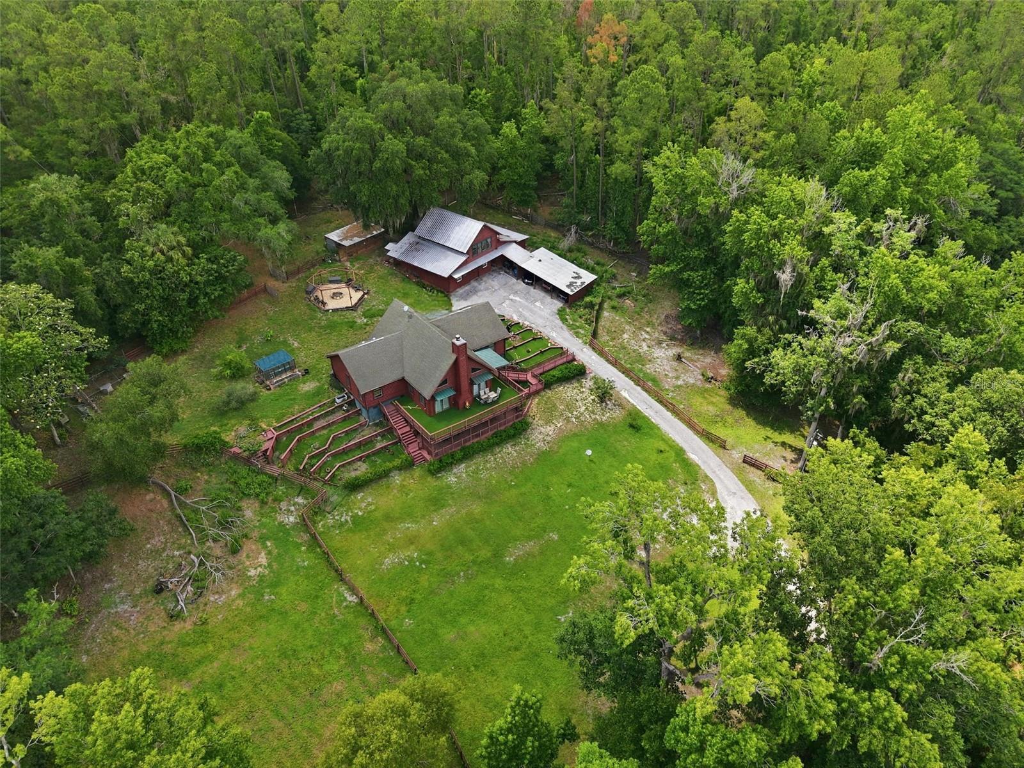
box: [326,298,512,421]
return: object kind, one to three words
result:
house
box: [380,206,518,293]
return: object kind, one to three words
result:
barn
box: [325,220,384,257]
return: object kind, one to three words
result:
shed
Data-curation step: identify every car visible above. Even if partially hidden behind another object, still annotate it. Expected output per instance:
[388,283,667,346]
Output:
[558,292,569,303]
[524,273,542,285]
